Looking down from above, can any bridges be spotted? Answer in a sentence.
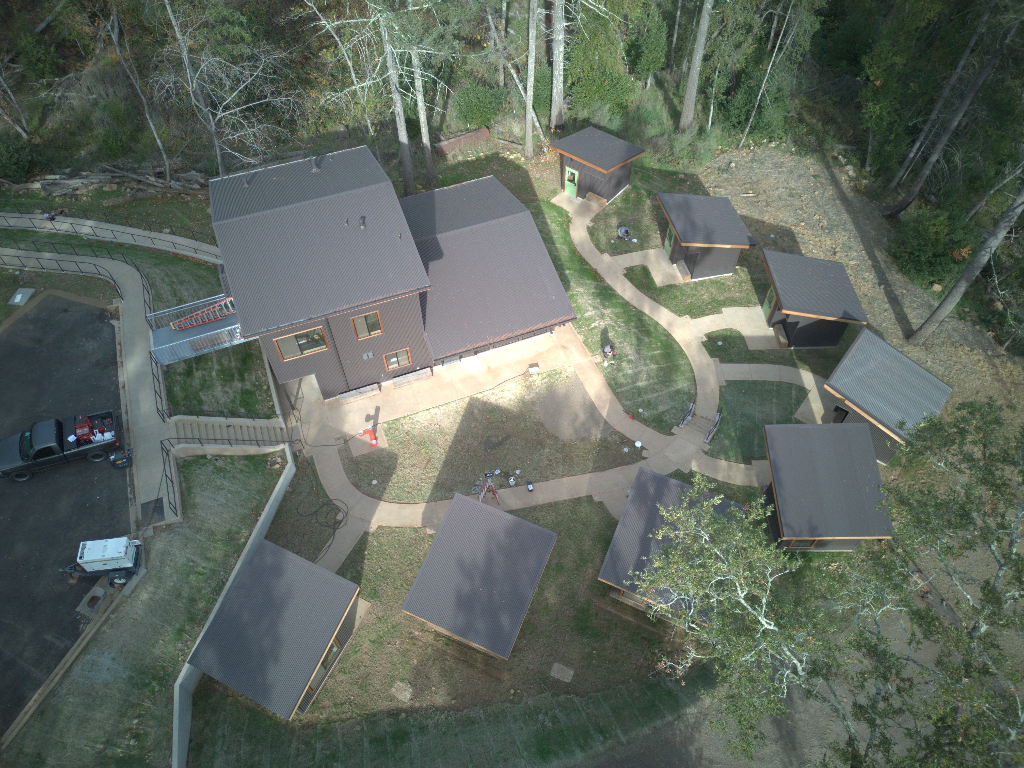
Yes, there is a bridge in the image.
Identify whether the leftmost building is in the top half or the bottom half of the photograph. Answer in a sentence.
The leftmost building sits in the bottom half of the picture.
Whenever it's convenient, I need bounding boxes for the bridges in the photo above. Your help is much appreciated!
[143,291,248,369]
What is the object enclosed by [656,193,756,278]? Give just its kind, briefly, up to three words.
building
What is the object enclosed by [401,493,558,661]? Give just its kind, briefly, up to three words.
building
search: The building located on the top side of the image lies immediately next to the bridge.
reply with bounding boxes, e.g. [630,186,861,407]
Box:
[210,143,577,401]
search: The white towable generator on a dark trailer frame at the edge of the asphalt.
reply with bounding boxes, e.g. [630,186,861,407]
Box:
[60,537,148,580]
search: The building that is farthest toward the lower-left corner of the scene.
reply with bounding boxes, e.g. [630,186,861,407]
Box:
[188,539,361,721]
